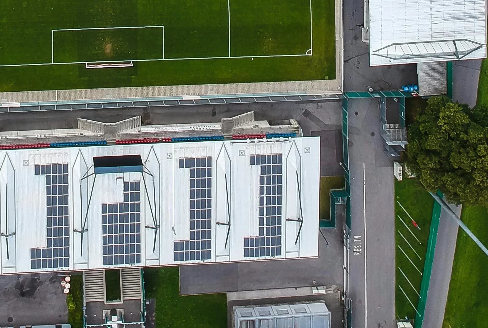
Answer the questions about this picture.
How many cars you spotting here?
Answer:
0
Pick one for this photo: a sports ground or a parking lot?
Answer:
sports ground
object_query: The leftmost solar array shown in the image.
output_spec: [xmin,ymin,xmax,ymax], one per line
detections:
[30,163,70,269]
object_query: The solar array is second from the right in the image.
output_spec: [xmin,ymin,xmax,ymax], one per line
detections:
[174,156,212,262]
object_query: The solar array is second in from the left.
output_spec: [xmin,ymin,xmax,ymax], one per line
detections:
[102,181,141,266]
